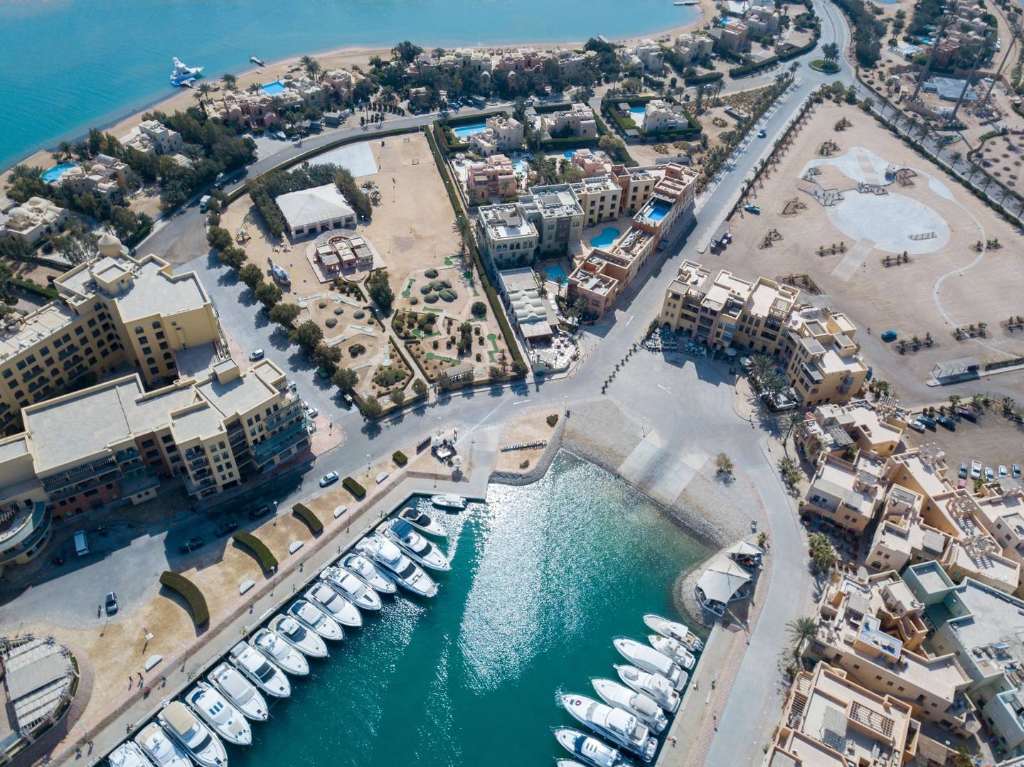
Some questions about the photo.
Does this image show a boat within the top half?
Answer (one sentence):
Yes, there is a boat within the top half.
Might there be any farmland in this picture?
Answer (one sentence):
No, farmland can't be seen anywhere here.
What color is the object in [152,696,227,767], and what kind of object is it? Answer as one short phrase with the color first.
white boat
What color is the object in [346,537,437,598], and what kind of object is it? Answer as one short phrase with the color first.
white boat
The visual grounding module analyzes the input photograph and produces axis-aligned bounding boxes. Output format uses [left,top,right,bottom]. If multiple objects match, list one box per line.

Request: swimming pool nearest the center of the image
[545,263,569,287]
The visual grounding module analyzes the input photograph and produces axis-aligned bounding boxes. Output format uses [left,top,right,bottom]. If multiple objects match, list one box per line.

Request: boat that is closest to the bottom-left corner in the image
[103,739,158,767]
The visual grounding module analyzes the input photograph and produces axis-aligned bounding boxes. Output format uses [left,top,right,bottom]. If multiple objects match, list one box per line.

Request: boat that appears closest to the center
[431,491,472,511]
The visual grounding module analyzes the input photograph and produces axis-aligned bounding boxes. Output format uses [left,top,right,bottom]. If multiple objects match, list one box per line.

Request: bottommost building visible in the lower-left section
[2,638,80,745]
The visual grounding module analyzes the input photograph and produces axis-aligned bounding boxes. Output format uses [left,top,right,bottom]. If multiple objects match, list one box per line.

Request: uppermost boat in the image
[167,65,204,87]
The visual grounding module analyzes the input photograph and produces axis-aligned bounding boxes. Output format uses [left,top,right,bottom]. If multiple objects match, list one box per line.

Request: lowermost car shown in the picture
[103,589,118,615]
